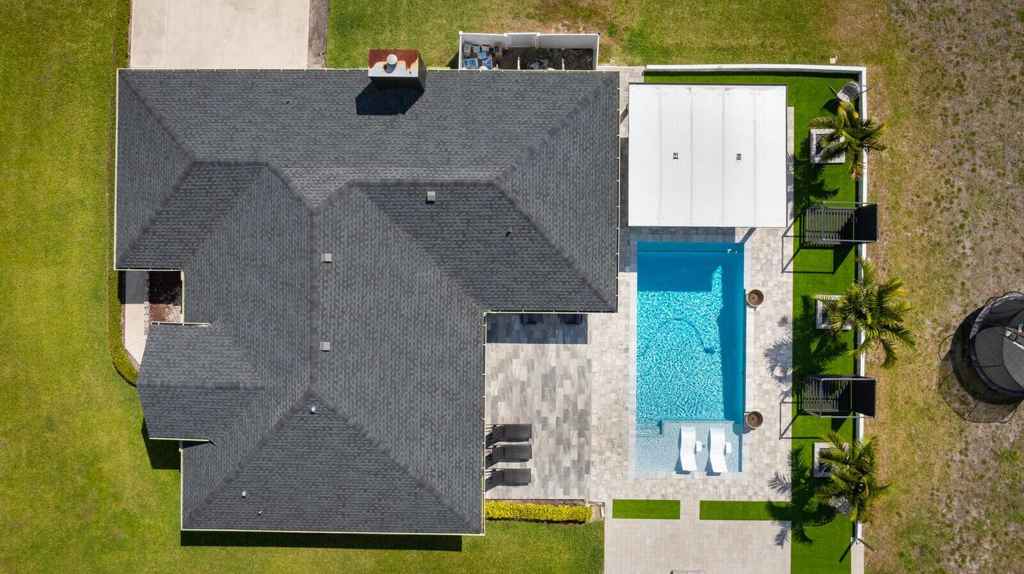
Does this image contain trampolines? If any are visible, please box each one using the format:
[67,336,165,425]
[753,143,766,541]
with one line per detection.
[960,287,1024,401]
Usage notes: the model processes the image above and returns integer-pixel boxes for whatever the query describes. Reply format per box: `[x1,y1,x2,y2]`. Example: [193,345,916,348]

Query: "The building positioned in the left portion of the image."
[116,48,620,535]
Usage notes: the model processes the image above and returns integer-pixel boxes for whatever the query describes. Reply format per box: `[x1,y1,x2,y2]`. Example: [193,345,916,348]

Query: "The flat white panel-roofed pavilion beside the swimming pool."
[624,83,787,227]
